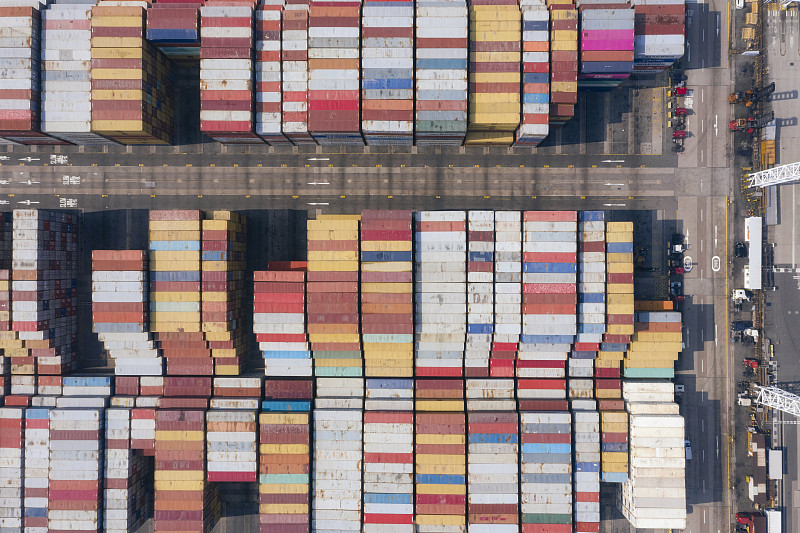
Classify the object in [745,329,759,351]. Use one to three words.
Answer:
vehicle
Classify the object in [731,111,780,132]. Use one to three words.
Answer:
work vehicle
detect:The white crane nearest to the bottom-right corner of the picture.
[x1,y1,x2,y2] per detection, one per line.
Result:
[738,383,800,418]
